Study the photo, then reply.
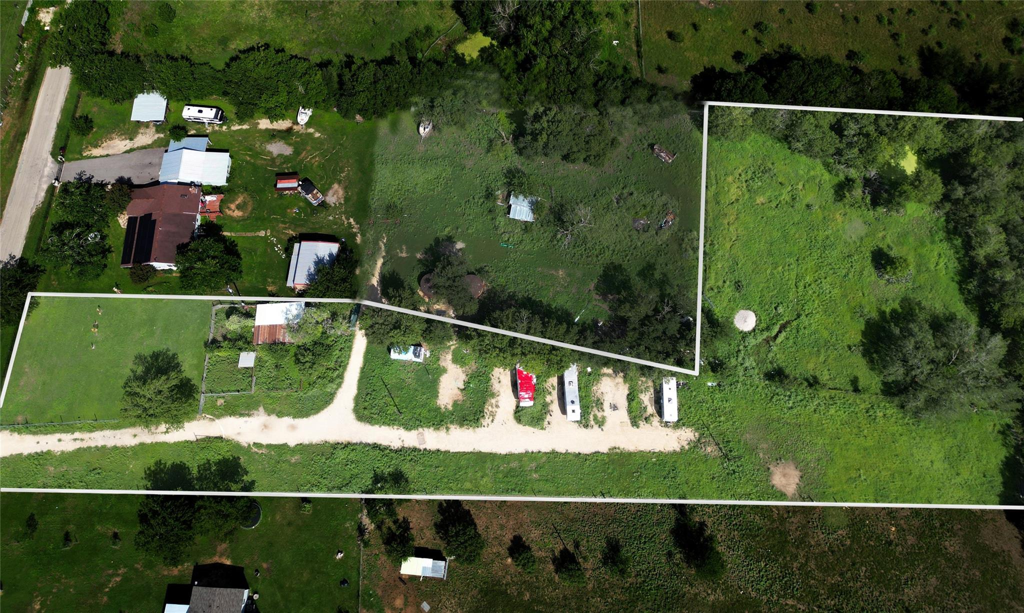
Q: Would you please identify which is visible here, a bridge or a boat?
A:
boat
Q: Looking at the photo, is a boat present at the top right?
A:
No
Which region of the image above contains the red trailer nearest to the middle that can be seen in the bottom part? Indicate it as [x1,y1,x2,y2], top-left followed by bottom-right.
[515,367,535,414]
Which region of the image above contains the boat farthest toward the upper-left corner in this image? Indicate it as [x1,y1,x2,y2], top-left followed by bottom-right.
[298,105,310,125]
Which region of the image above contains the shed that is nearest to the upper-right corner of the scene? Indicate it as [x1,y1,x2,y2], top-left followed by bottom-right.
[507,191,535,227]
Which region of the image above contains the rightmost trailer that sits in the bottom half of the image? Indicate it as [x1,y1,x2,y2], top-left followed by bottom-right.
[659,379,678,430]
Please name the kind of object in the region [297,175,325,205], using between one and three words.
boat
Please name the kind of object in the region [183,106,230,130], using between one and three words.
trailer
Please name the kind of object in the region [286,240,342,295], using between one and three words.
barn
